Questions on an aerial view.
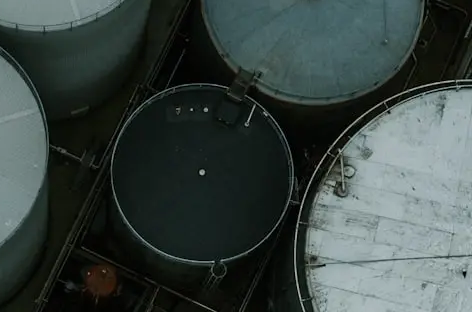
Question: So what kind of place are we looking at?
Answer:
industrial area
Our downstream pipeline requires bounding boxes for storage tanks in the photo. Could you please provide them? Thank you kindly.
[281,80,472,312]
[0,44,49,307]
[102,82,297,293]
[187,0,425,144]
[0,0,149,121]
